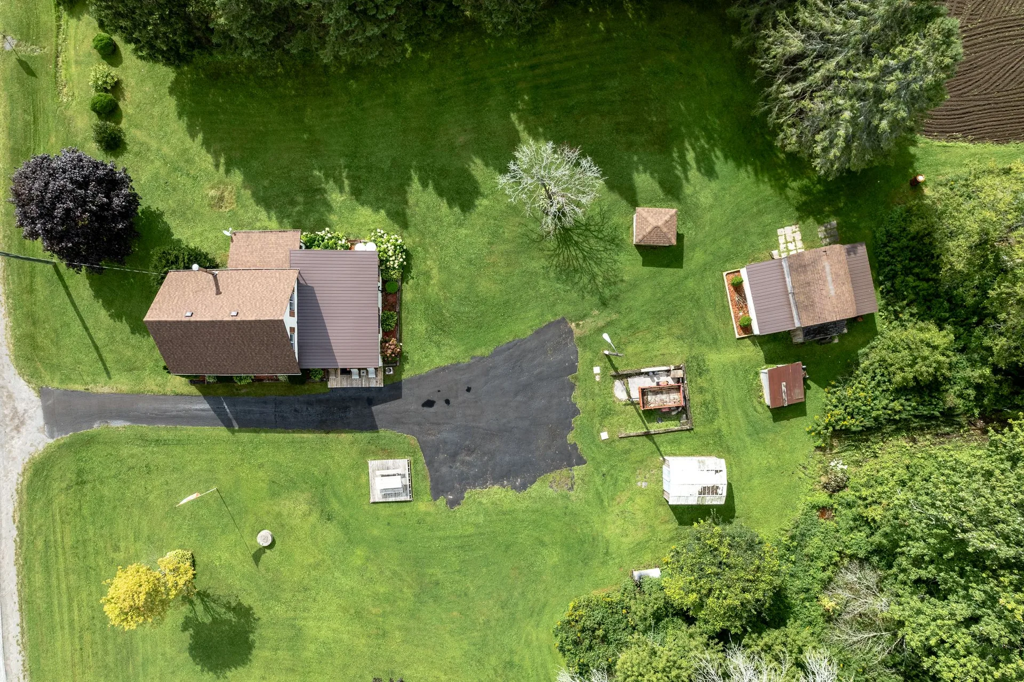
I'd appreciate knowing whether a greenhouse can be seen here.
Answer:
Yes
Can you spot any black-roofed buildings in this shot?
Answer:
No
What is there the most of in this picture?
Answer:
grass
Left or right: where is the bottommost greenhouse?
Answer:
right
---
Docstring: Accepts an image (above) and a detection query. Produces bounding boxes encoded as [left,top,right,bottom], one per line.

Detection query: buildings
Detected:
[759,363,807,408]
[742,242,878,342]
[144,225,384,376]
[661,456,728,504]
[632,207,679,247]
